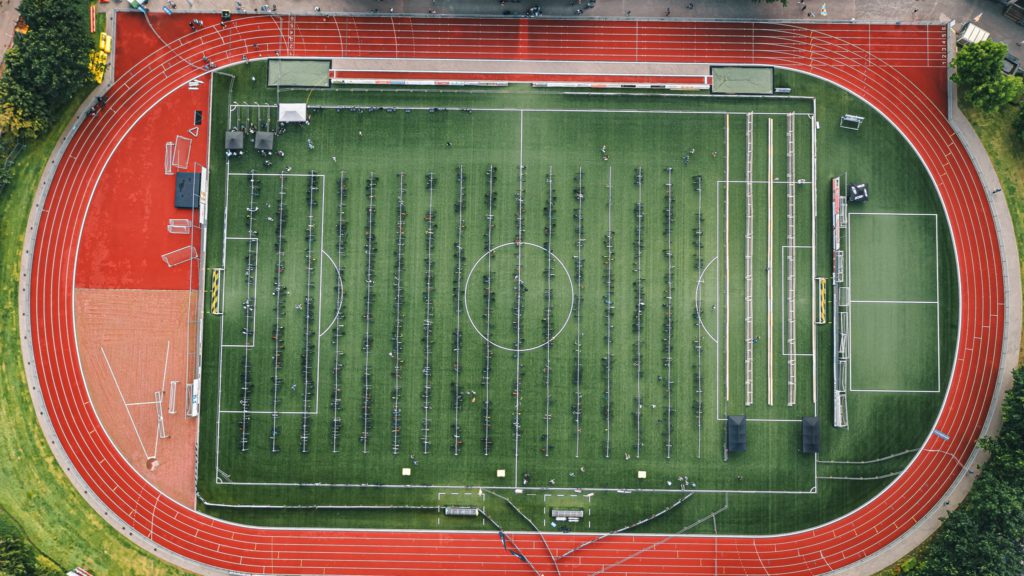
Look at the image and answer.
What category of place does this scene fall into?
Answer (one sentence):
This image shows a sports ground.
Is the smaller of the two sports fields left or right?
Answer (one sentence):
The smaller of the two sports fields is on the right side of the image.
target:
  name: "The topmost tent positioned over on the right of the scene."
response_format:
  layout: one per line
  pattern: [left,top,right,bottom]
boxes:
[840,183,868,207]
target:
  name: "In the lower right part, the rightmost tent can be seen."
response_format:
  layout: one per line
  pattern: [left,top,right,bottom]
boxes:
[796,413,820,453]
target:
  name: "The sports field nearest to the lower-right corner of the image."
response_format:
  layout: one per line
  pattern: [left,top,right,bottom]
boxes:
[849,213,940,392]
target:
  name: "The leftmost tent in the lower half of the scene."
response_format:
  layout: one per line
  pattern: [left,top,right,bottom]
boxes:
[723,412,746,451]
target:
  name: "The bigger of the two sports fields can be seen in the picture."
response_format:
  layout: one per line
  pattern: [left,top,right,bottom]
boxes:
[213,102,819,528]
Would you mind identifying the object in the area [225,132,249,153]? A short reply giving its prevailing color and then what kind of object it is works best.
gray tent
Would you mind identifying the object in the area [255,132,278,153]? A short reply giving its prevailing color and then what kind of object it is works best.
gray tent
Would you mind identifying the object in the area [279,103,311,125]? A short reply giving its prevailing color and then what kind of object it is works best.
white tent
